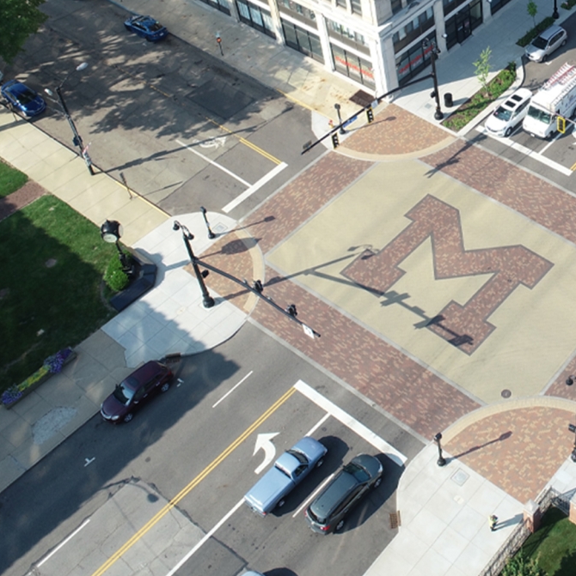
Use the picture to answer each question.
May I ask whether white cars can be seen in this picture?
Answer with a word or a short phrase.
Yes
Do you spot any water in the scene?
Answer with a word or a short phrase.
No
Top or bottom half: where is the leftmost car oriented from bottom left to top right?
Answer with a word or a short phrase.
bottom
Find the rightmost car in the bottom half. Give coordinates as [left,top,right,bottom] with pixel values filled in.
[299,456,386,540]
